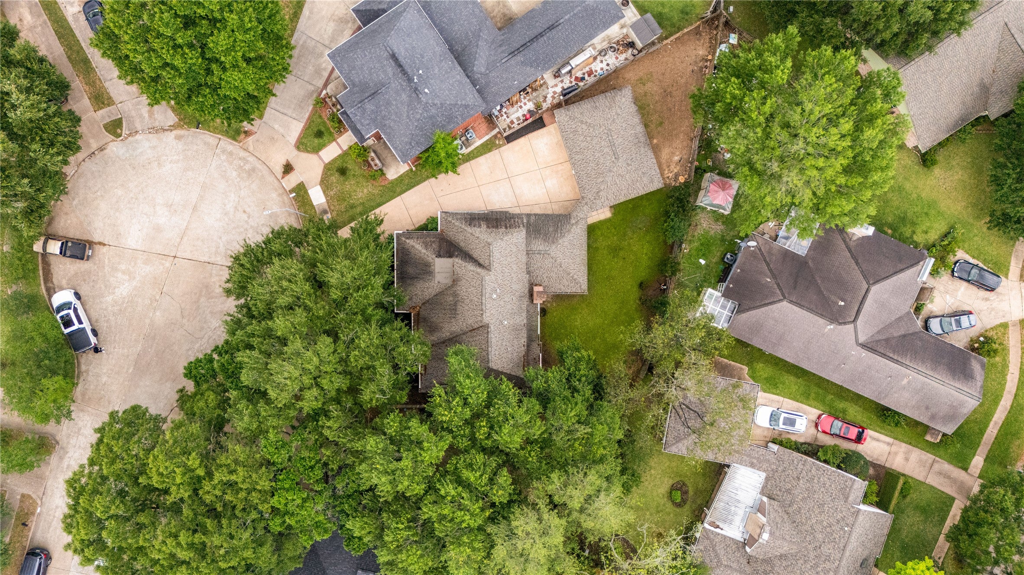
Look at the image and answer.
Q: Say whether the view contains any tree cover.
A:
Yes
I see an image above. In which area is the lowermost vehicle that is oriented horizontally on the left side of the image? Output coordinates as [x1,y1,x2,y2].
[34,234,96,263]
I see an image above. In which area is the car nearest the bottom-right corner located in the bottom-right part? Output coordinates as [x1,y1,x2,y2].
[813,414,870,445]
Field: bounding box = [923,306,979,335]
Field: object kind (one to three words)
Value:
car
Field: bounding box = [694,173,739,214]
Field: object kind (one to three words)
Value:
gazebo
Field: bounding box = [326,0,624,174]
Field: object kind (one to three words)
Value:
house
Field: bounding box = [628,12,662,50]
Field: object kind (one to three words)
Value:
shed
